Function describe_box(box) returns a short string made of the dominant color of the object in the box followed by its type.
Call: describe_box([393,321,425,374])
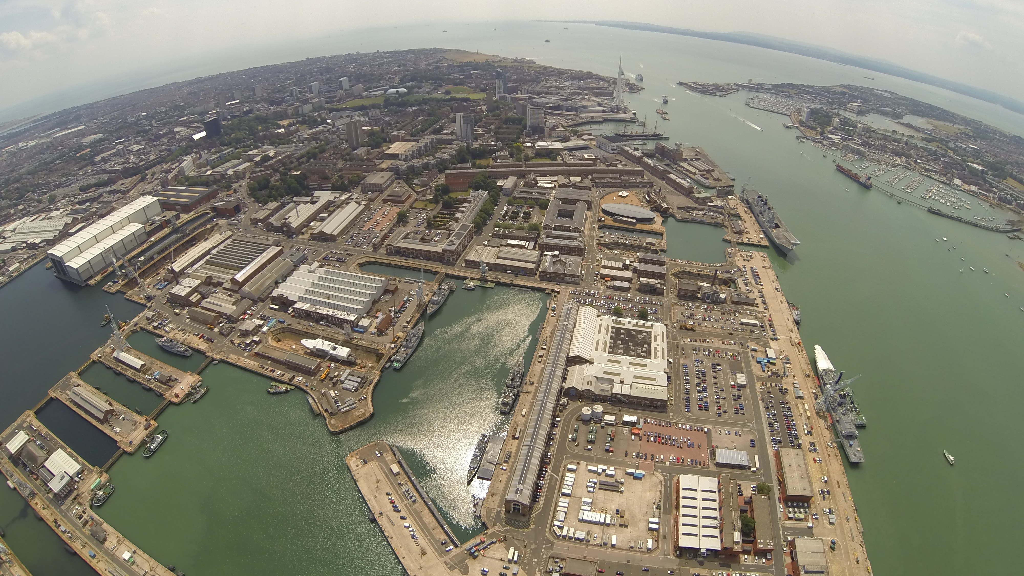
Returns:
gray ship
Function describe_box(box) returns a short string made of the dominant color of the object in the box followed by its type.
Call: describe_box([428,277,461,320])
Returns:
gray ship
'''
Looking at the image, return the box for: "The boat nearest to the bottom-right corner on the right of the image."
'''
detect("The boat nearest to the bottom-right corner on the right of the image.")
[943,449,955,465]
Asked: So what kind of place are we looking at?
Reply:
port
